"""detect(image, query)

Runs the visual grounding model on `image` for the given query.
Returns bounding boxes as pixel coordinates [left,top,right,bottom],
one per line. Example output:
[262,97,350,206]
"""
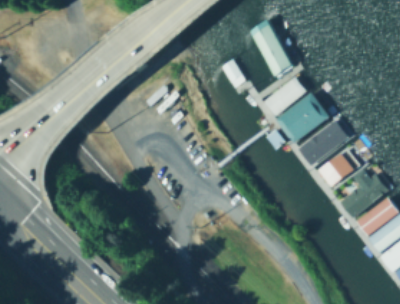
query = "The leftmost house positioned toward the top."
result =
[223,59,248,88]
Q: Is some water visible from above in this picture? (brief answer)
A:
Yes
